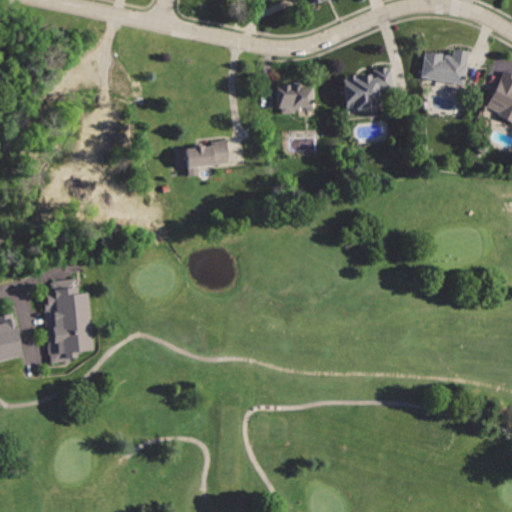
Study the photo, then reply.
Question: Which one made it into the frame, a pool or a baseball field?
pool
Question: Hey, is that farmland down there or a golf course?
golf course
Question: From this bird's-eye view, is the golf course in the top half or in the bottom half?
bottom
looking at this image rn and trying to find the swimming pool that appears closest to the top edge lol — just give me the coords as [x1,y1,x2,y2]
[424,82,464,116]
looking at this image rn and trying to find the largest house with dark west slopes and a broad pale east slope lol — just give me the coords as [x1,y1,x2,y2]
[44,281,92,364]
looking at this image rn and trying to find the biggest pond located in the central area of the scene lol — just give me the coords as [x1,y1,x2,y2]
[188,248,236,289]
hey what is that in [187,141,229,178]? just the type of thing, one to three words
house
